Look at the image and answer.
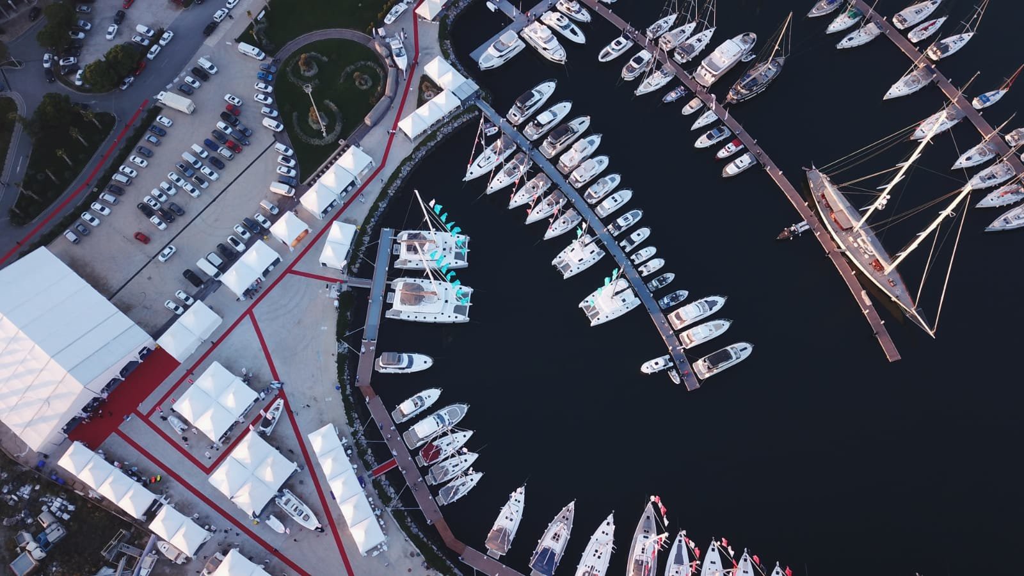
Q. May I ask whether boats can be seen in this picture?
Yes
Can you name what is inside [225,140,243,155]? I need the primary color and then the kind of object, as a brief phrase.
red car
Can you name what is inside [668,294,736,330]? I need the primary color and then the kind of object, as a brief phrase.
white boat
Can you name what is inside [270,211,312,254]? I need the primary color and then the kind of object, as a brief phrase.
white tent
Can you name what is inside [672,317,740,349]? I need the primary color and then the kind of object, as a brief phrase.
white boat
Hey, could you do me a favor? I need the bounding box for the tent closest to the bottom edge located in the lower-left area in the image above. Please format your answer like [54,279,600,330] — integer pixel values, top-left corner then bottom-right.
[207,549,274,576]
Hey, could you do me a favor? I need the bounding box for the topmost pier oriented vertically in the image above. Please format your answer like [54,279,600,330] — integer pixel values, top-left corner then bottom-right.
[363,228,395,341]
